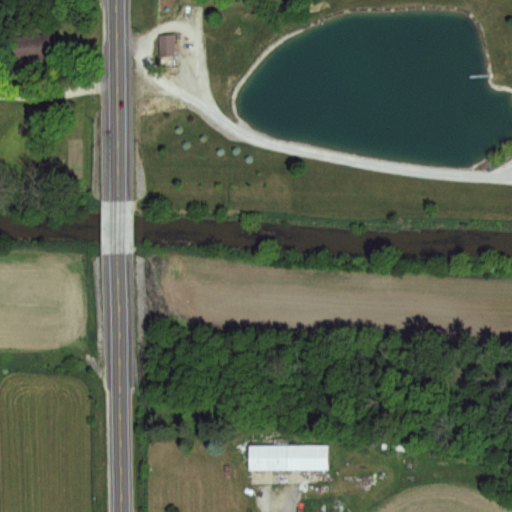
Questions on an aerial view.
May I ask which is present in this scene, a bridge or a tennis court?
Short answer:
bridge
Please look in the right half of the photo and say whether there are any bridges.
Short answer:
No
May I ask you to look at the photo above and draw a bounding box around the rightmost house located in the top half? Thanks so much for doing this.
[159,34,177,66]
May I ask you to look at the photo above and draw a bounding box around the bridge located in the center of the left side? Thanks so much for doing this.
[102,202,134,254]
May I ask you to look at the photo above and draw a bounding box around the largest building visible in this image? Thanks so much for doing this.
[249,444,329,472]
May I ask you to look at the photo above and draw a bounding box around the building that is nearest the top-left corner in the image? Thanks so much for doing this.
[14,36,48,60]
